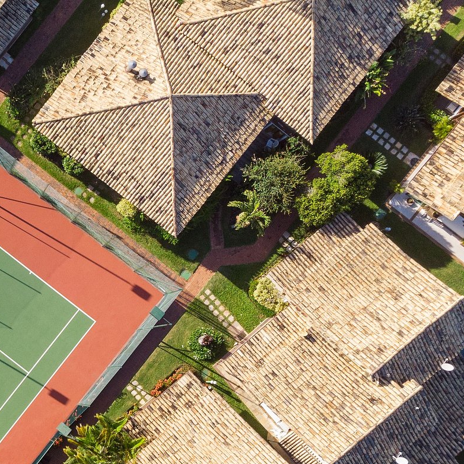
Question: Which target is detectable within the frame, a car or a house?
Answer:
house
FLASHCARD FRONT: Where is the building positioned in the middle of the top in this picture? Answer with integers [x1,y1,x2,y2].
[31,0,408,239]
